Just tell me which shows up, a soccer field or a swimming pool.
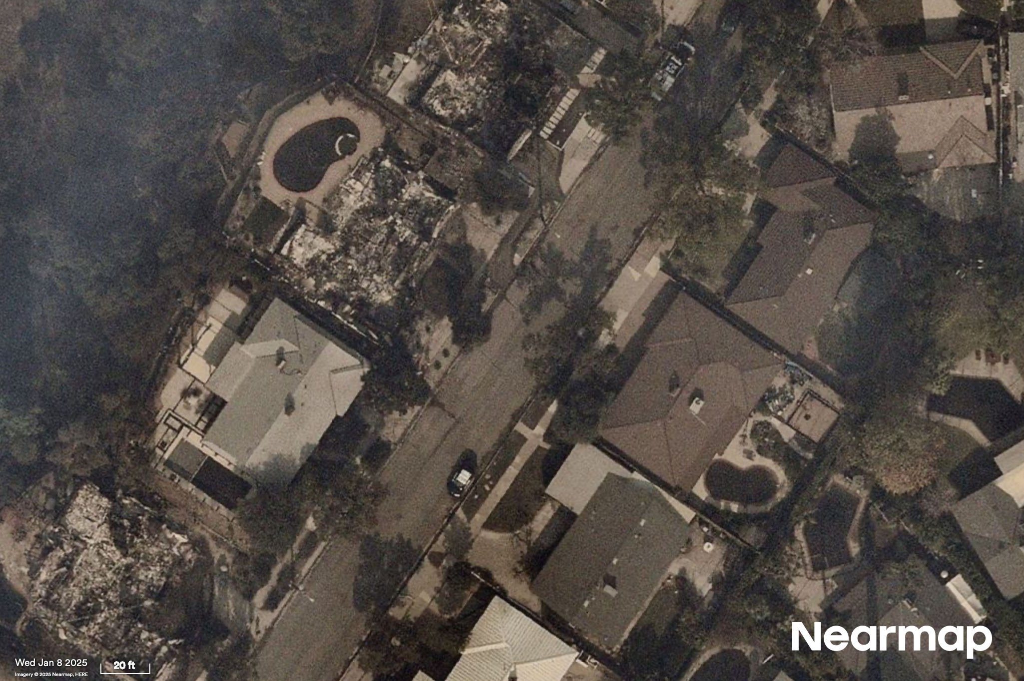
swimming pool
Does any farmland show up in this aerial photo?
No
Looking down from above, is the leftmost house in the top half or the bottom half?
bottom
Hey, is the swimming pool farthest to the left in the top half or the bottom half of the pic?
bottom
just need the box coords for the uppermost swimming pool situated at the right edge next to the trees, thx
[926,375,1024,447]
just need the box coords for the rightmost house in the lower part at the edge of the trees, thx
[951,441,1024,600]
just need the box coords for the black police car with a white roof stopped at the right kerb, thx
[446,460,478,501]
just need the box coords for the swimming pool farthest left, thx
[162,438,253,510]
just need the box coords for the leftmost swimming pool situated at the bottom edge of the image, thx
[690,648,753,681]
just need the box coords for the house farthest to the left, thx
[28,475,196,675]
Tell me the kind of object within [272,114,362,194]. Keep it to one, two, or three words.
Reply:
swimming pool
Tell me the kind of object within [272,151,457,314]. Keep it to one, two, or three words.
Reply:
house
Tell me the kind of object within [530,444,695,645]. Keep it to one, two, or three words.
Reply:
house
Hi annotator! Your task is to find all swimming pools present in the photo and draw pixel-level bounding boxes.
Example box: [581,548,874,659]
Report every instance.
[690,648,753,681]
[802,483,860,574]
[703,457,780,508]
[926,375,1024,447]
[272,114,362,194]
[162,438,253,510]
